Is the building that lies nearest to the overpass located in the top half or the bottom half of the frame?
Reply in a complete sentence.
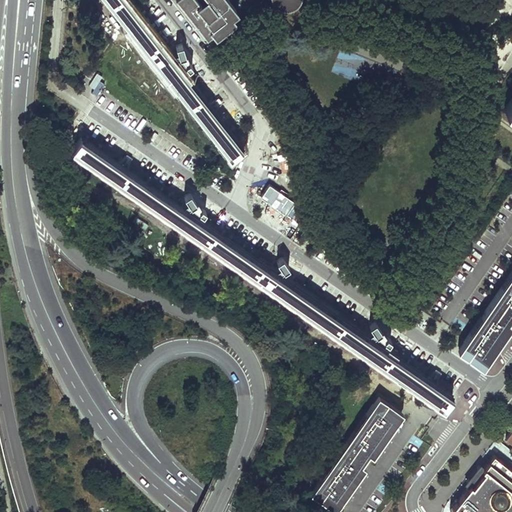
You can find the building that lies nearest to the overpass in the bottom half.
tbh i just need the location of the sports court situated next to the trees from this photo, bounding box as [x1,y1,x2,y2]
[331,51,368,80]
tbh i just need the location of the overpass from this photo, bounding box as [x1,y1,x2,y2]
[197,466,242,512]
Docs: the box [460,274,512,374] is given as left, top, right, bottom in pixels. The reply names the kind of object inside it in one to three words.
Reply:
building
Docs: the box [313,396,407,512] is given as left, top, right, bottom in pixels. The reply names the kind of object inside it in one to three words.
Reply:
building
